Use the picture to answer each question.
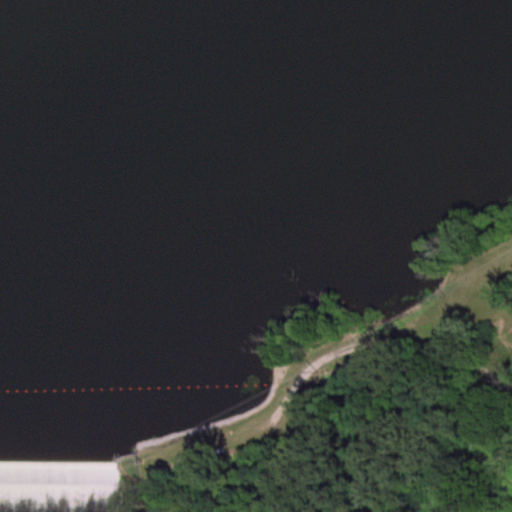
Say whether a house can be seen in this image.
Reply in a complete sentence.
No, there isn't any house down there.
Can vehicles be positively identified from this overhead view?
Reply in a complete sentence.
No, there is no vehicle in the image.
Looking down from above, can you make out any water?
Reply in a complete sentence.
Yes, there is water in the image.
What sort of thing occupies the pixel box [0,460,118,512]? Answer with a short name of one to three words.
dam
